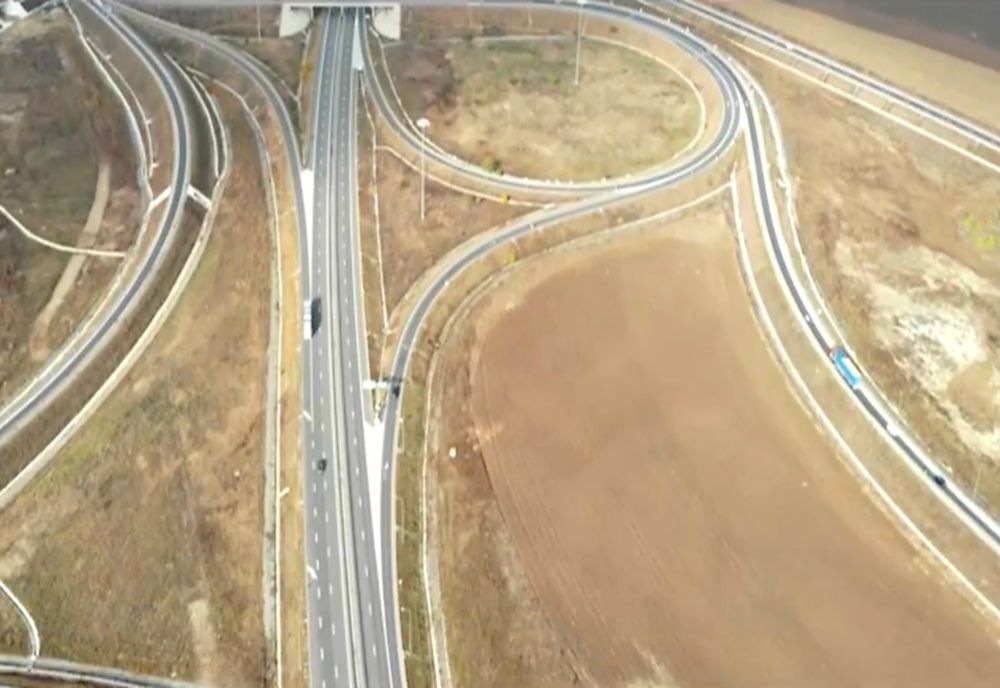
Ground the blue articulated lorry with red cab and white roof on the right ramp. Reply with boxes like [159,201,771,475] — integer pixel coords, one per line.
[831,355,862,387]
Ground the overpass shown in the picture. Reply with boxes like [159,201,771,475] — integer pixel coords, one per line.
[280,1,405,40]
